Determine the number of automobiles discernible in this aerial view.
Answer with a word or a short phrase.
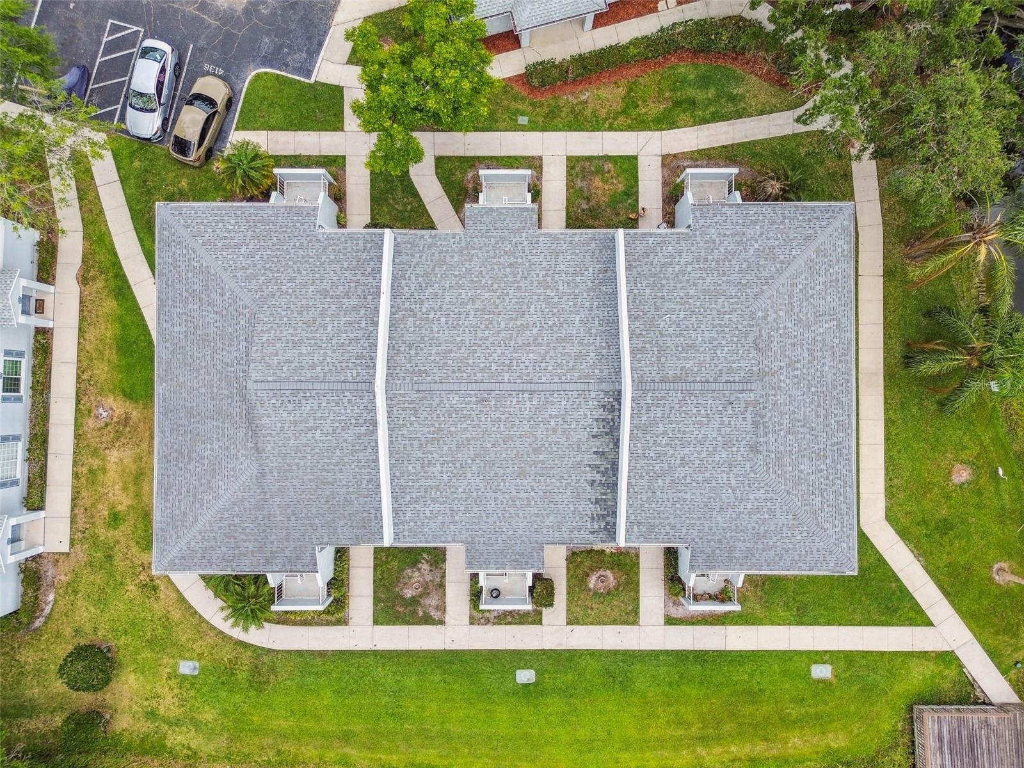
two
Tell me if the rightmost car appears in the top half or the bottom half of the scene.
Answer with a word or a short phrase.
top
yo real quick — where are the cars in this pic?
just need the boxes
[118,36,180,142]
[164,73,233,168]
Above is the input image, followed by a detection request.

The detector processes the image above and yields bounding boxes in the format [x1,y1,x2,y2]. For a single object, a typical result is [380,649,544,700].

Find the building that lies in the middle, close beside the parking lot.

[150,168,859,610]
